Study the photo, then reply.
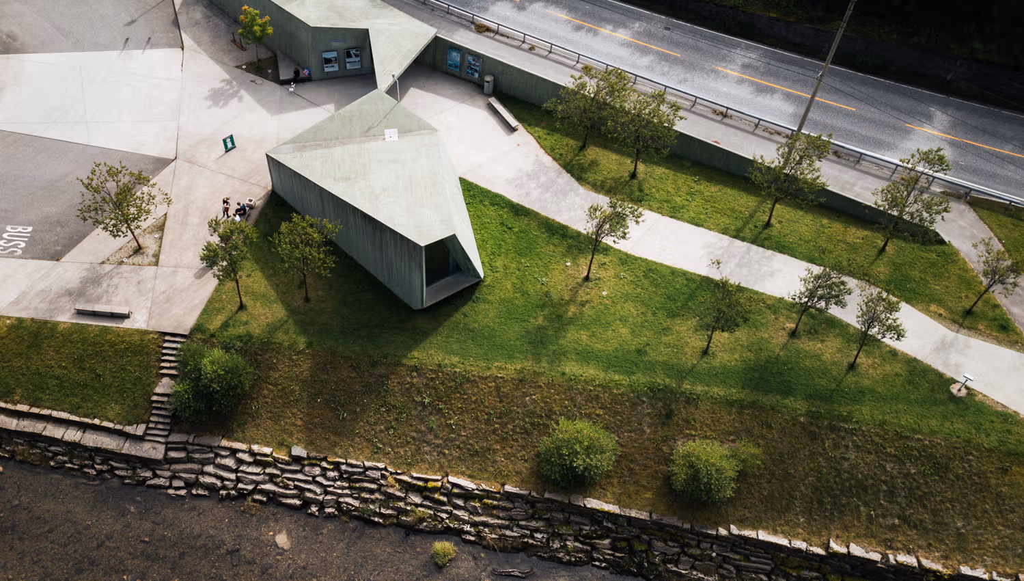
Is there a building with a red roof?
No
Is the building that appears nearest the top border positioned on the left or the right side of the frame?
left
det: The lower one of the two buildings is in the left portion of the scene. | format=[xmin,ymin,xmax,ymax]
[267,90,482,309]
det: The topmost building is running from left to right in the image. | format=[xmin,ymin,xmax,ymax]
[211,0,437,95]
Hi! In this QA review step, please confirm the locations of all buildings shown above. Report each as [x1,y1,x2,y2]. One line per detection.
[267,90,482,309]
[211,0,437,95]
